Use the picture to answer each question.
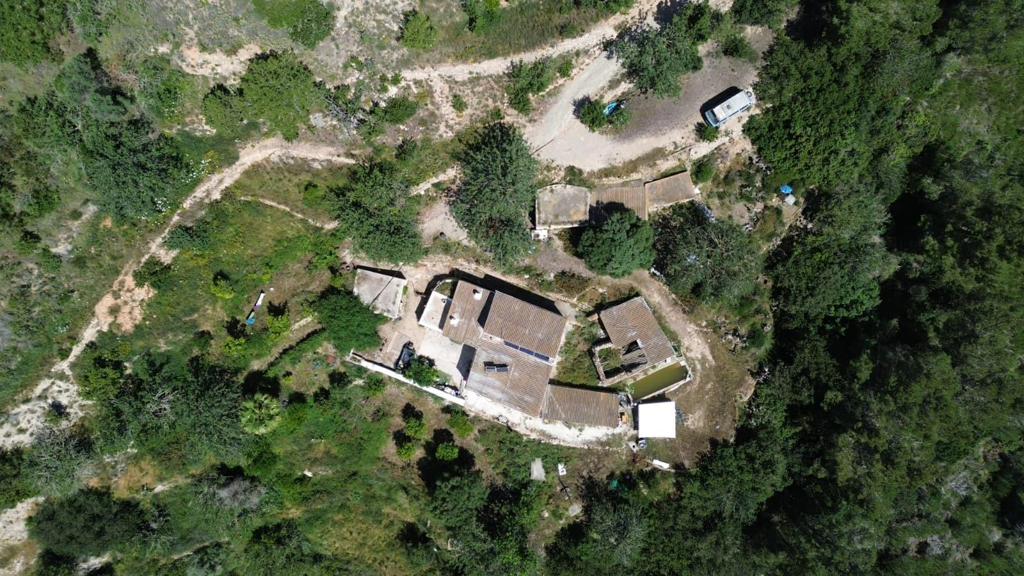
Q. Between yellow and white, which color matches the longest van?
white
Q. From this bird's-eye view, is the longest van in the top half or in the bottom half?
top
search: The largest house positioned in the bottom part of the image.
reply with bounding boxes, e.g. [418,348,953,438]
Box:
[419,279,619,428]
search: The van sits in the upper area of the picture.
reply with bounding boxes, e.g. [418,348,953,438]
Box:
[700,88,756,127]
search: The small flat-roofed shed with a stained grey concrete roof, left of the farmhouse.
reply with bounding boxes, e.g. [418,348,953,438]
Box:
[353,268,409,319]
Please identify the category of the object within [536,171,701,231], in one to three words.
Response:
shed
